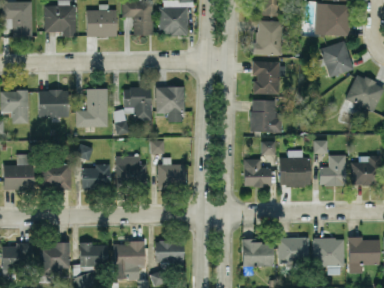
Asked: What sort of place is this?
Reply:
residential area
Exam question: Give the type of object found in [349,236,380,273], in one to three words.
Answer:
house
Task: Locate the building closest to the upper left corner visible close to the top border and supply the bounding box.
[5,1,32,36]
